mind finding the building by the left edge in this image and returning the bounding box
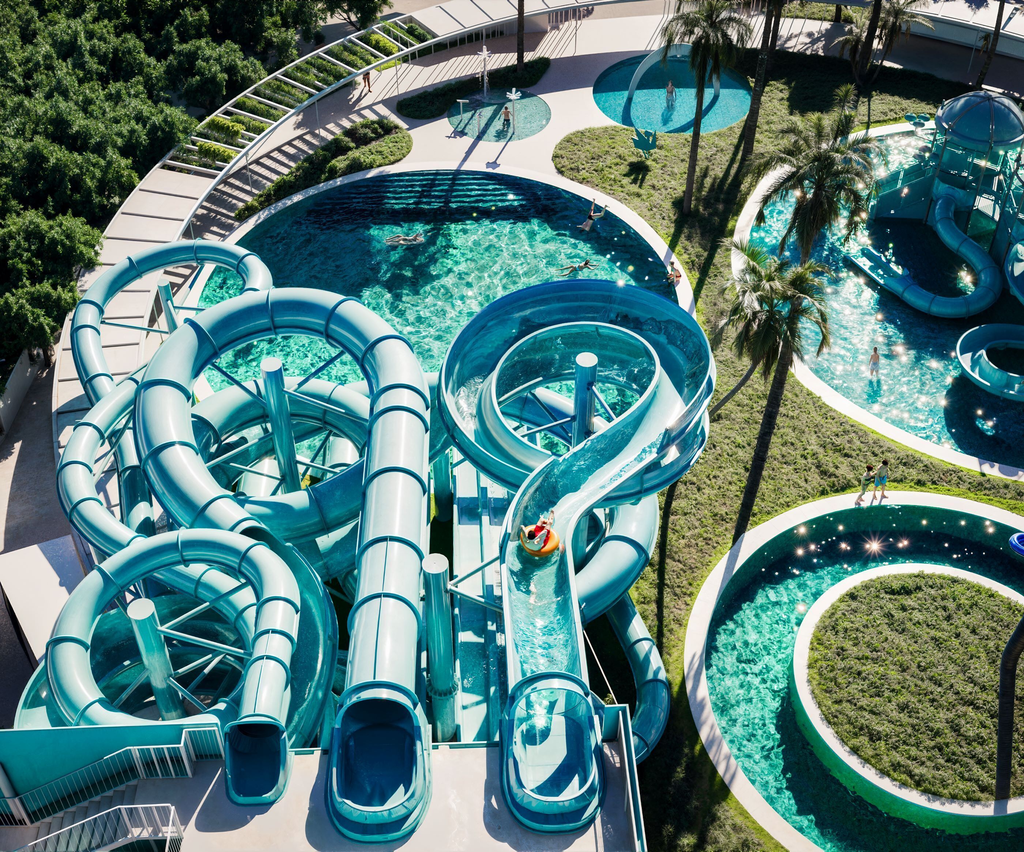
[0,535,83,646]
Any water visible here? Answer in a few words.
Yes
